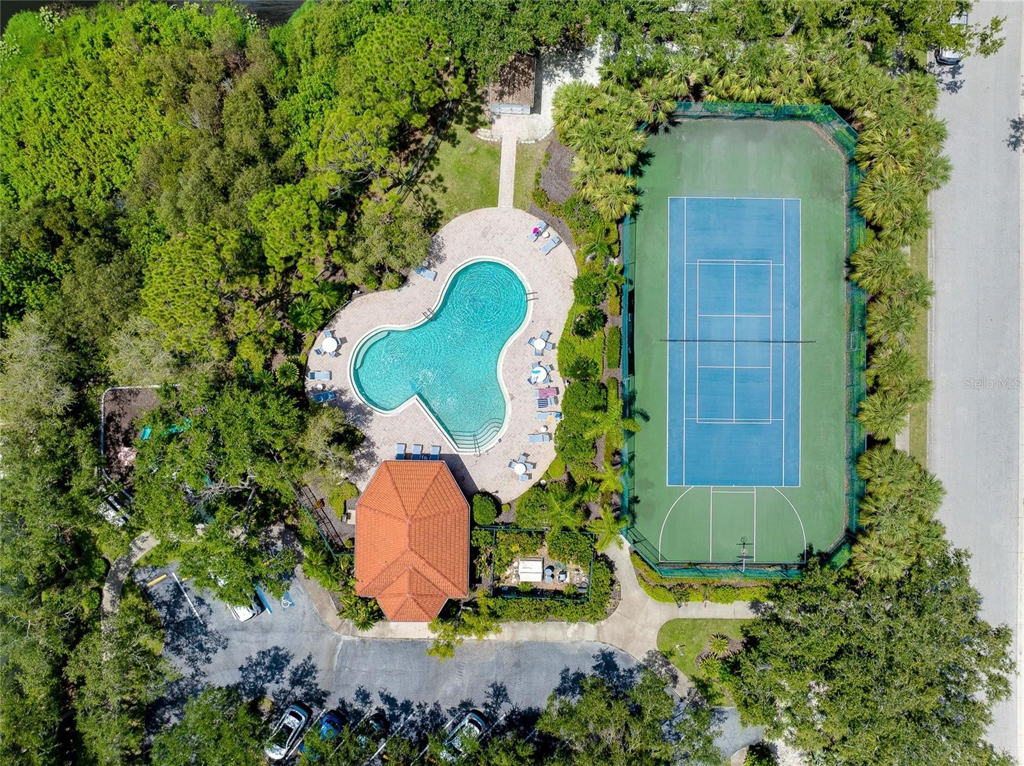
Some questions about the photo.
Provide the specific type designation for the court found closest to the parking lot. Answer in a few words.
tennis court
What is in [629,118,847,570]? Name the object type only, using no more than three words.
tennis court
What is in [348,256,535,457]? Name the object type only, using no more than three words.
swimming pool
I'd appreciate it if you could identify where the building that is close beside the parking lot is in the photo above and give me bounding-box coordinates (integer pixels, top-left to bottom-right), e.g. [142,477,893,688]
[354,459,470,624]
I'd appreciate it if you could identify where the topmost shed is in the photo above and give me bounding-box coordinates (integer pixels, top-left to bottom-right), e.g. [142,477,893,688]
[489,47,533,114]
